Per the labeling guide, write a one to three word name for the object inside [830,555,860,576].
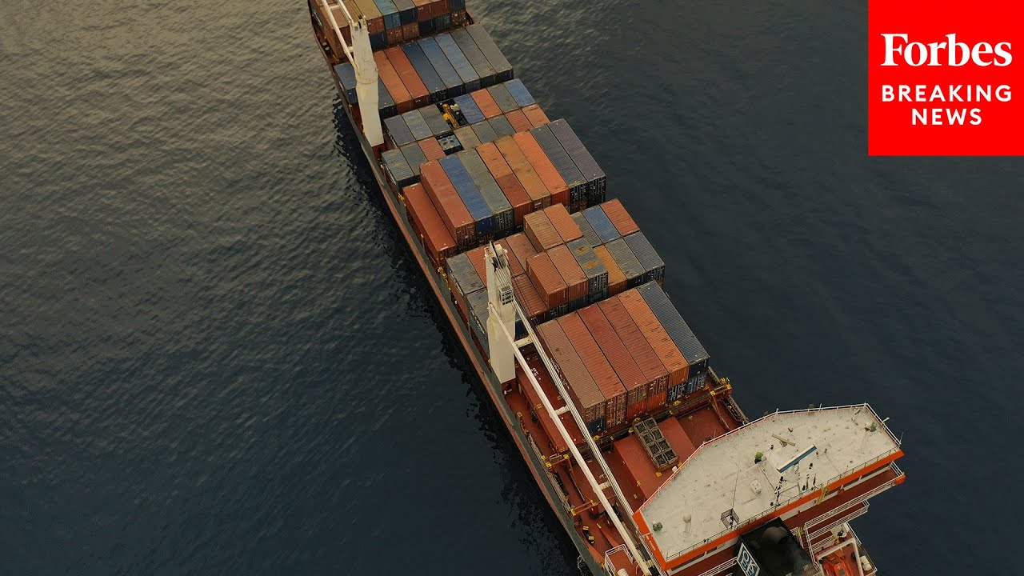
boat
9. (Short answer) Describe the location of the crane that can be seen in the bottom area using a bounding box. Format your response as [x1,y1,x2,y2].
[483,243,657,576]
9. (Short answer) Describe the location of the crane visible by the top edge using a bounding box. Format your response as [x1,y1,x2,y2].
[319,0,389,150]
